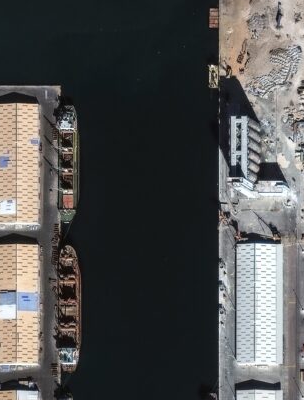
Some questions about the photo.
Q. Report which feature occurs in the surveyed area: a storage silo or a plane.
storage silo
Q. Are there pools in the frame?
No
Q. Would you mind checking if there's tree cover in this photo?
No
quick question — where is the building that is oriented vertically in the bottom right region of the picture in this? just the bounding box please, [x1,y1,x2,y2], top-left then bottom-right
[236,242,285,366]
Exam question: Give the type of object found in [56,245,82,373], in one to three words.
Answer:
ship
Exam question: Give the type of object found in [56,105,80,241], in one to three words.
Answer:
ship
